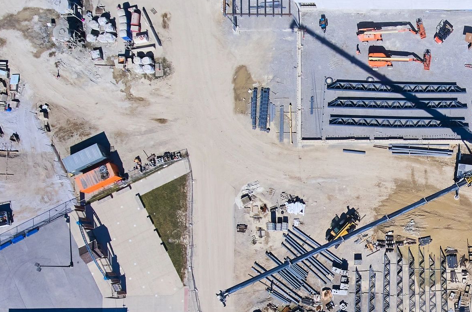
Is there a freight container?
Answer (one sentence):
Yes, a freight container appears in the view.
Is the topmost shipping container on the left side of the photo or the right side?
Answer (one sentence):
You can find the topmost shipping container on the left side of the picture.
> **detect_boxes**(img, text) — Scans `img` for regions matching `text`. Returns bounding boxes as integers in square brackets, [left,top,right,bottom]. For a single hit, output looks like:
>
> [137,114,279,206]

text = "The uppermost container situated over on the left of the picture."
[66,143,112,175]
